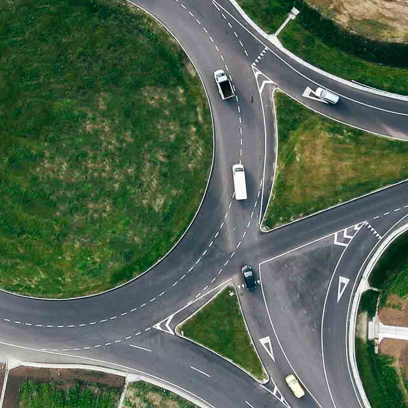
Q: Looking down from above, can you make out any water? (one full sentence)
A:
No, no water is visible.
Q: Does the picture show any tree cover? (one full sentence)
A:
No, no tree cover is visible.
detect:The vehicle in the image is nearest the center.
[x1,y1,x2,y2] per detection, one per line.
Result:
[231,164,246,200]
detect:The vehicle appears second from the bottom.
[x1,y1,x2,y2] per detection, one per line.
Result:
[241,264,256,290]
